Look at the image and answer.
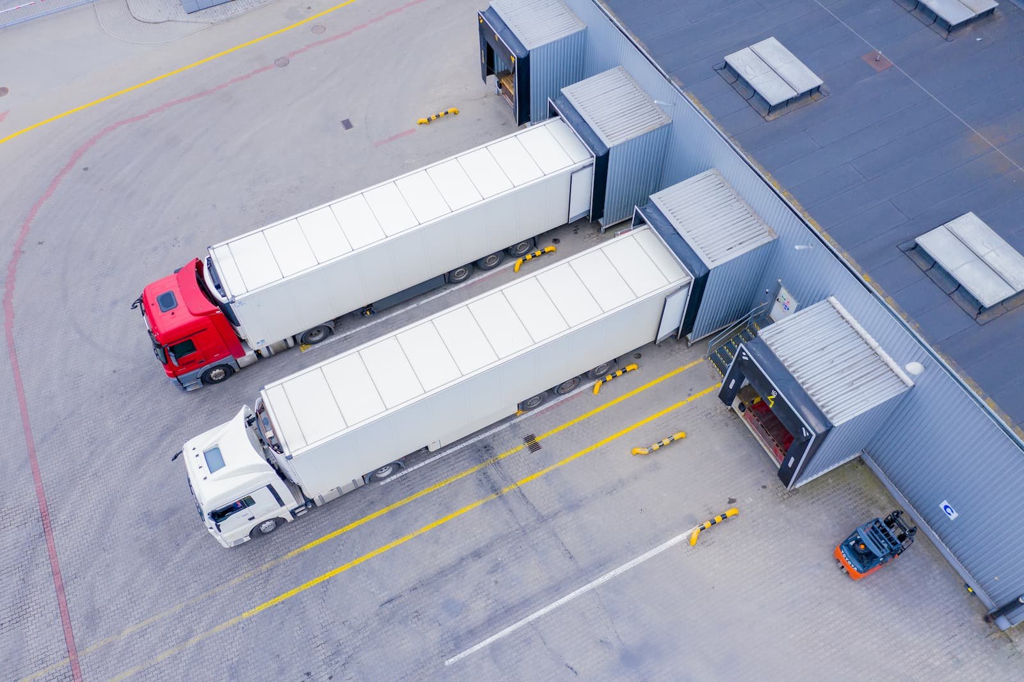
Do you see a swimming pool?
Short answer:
No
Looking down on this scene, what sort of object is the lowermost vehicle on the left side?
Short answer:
truck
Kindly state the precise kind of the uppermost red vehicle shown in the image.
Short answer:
truck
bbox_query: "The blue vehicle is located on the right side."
[830,507,921,582]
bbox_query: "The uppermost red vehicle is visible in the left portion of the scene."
[134,257,333,390]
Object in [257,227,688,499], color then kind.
white trailer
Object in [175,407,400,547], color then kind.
white truck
